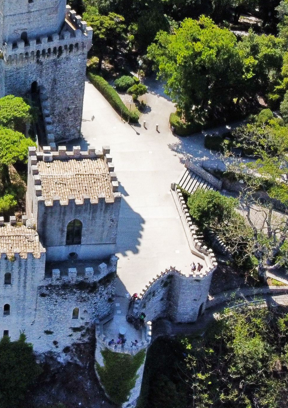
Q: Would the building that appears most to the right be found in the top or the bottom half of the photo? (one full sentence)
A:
It is in the bottom half that the building that appears most to the right appears.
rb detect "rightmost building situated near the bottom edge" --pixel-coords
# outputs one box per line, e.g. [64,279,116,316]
[89,310,154,407]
